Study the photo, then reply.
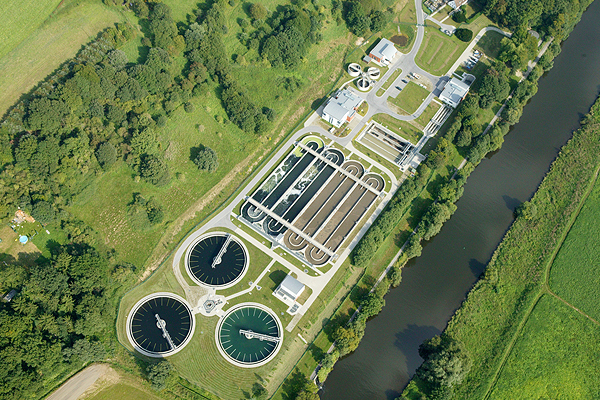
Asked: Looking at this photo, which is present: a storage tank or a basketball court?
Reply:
storage tank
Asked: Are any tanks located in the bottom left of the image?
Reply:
Yes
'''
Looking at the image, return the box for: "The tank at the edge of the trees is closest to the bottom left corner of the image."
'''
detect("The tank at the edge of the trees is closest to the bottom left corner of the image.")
[126,292,196,358]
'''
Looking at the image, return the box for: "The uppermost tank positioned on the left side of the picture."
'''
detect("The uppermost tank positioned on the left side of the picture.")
[185,231,251,290]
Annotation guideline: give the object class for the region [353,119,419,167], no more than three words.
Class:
storage tank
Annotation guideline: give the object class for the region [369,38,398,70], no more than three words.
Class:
building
